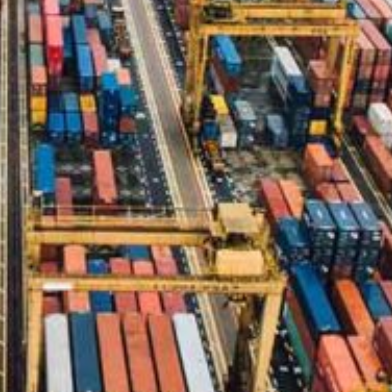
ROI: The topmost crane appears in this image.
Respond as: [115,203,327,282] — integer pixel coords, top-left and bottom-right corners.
[179,0,356,147]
